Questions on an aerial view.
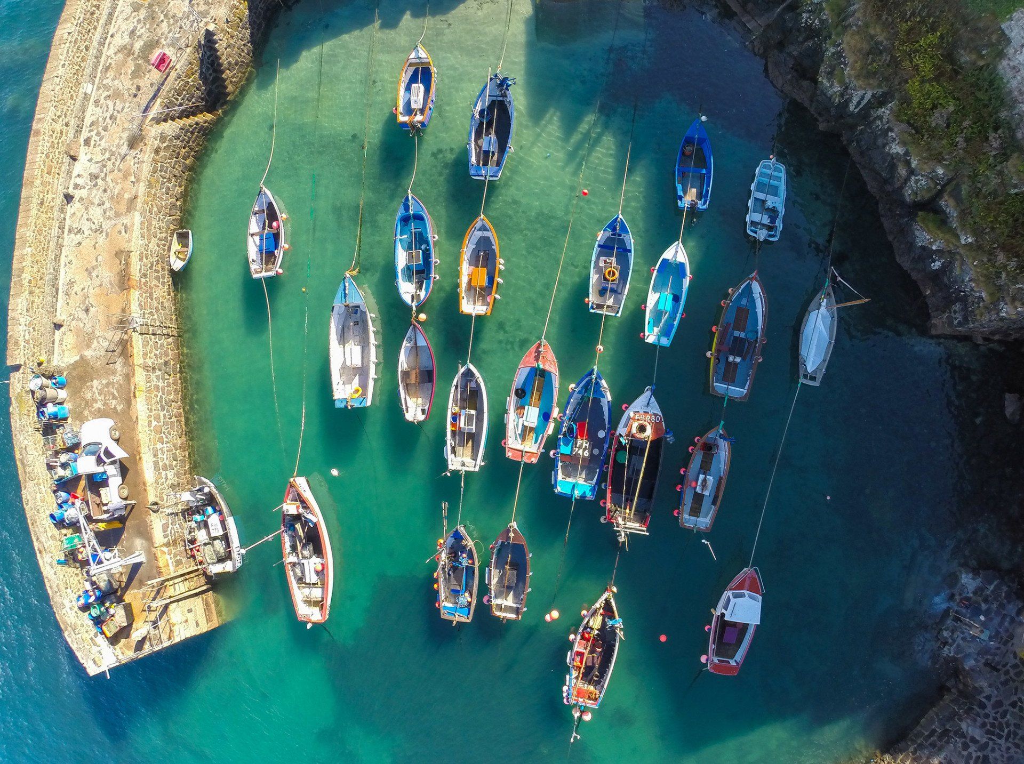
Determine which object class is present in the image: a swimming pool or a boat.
boat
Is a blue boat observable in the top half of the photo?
Yes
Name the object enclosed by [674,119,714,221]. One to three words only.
boat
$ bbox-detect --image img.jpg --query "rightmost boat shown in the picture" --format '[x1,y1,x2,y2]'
[794,265,871,385]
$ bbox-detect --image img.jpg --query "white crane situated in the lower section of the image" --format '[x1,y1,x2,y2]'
[71,490,155,584]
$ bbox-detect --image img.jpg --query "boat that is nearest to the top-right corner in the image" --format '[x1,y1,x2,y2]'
[745,159,788,244]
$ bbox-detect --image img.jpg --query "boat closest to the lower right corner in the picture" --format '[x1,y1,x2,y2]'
[706,568,765,677]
